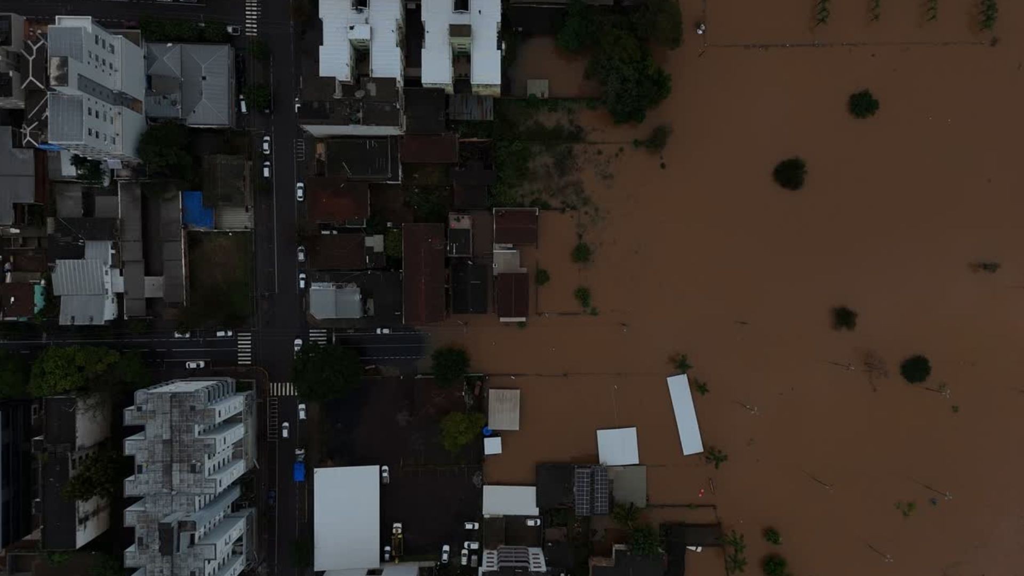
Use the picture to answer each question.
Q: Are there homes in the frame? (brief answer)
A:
Yes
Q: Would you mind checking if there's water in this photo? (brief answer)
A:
Yes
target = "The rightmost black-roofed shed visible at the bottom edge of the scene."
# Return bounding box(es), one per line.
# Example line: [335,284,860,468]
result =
[658,519,721,576]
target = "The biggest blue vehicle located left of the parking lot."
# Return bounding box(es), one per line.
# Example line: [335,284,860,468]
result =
[292,448,306,482]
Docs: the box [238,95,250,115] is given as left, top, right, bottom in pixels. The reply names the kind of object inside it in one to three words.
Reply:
vehicle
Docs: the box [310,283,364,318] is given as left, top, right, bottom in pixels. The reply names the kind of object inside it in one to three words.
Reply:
building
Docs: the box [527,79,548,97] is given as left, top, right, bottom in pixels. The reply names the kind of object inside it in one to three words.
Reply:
shed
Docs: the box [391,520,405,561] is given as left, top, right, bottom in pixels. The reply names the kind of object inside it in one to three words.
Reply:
vehicle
